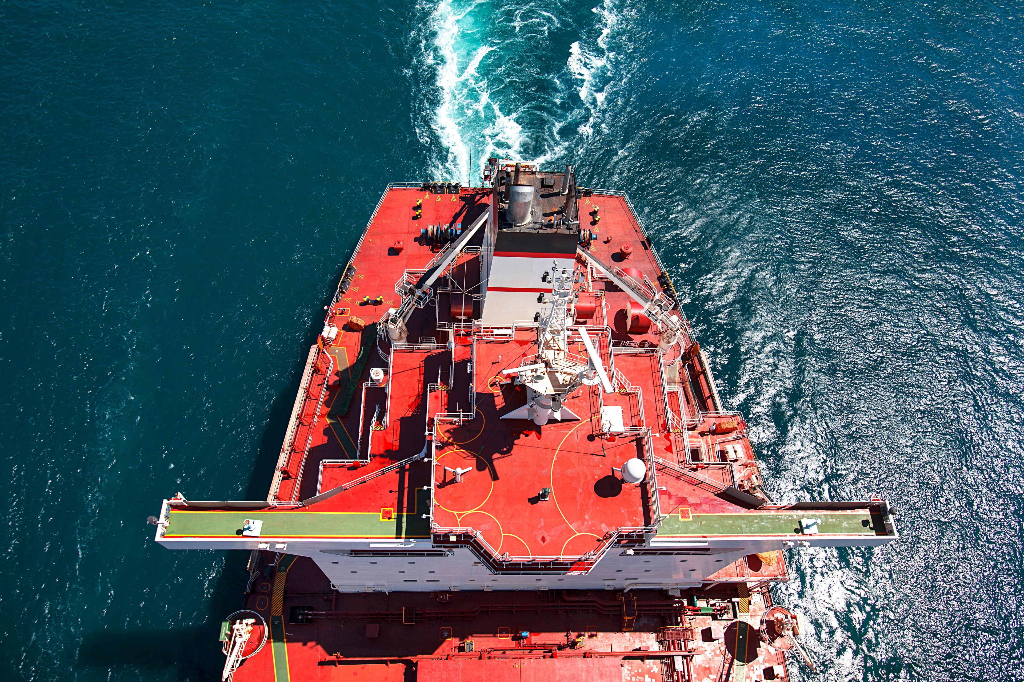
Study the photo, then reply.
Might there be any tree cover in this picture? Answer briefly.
No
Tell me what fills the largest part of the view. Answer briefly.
water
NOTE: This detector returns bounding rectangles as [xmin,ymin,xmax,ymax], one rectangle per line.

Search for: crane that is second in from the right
[575,236,699,366]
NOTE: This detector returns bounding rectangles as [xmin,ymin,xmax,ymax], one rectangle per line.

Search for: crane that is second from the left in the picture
[368,196,490,354]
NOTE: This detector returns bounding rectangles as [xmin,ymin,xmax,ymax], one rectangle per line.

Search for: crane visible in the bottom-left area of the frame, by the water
[220,618,256,682]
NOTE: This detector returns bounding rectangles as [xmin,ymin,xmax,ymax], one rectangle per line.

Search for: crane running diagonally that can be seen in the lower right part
[772,612,816,677]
